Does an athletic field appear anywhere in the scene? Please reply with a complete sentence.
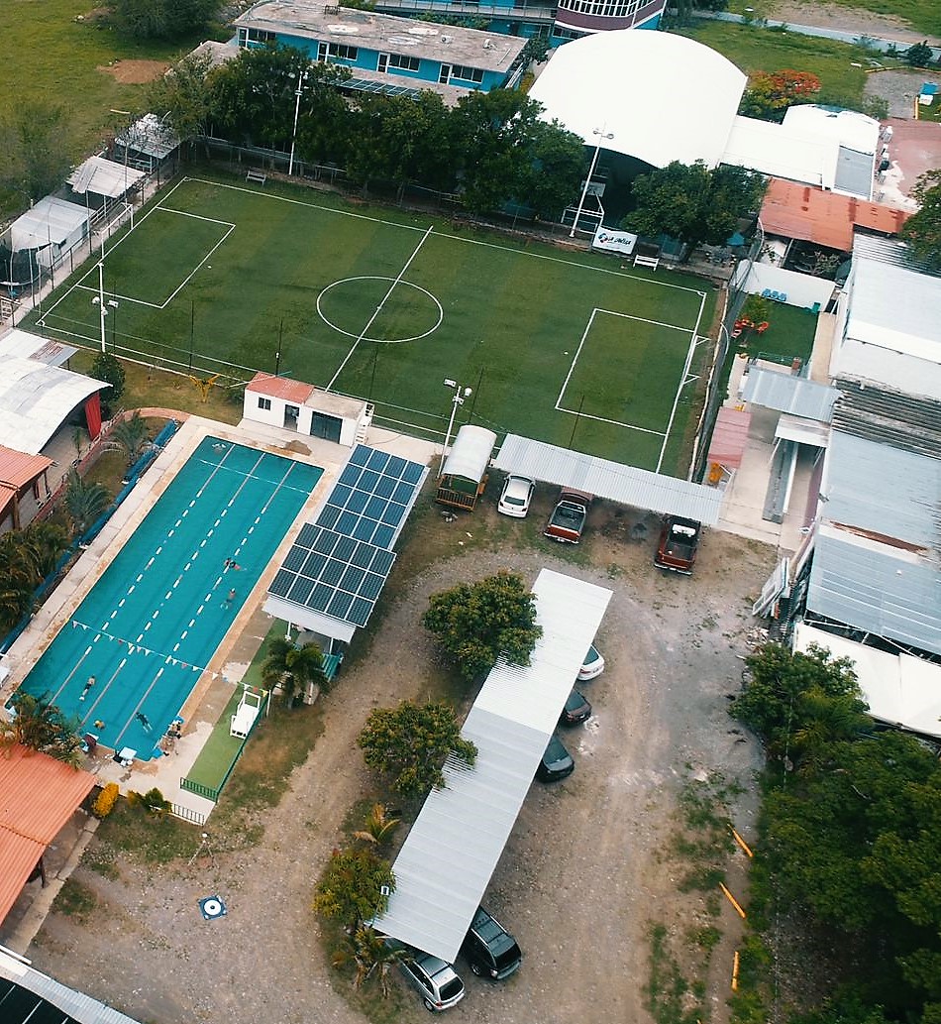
Yes, there is an athletic field in the image.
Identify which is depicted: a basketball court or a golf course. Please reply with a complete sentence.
This aerial view contains a basketball court.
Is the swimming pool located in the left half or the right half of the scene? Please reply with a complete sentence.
You can find the swimming pool on the left side of the picture.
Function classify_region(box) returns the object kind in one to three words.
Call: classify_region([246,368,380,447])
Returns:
building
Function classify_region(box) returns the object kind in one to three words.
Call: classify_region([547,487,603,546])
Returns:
truck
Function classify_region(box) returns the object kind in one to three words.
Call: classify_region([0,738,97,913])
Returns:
building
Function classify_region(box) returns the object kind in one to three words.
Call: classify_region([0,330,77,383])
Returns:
shed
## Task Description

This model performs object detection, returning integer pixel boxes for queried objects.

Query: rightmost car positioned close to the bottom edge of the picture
[457,902,516,984]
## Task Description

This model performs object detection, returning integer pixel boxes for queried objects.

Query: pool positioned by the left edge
[0,425,338,777]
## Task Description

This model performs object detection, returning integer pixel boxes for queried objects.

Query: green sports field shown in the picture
[15,162,724,475]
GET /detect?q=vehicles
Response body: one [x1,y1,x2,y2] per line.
[532,734,575,785]
[381,933,469,1014]
[655,515,709,577]
[555,680,597,730]
[575,639,613,683]
[498,471,540,516]
[547,487,603,546]
[457,902,516,984]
